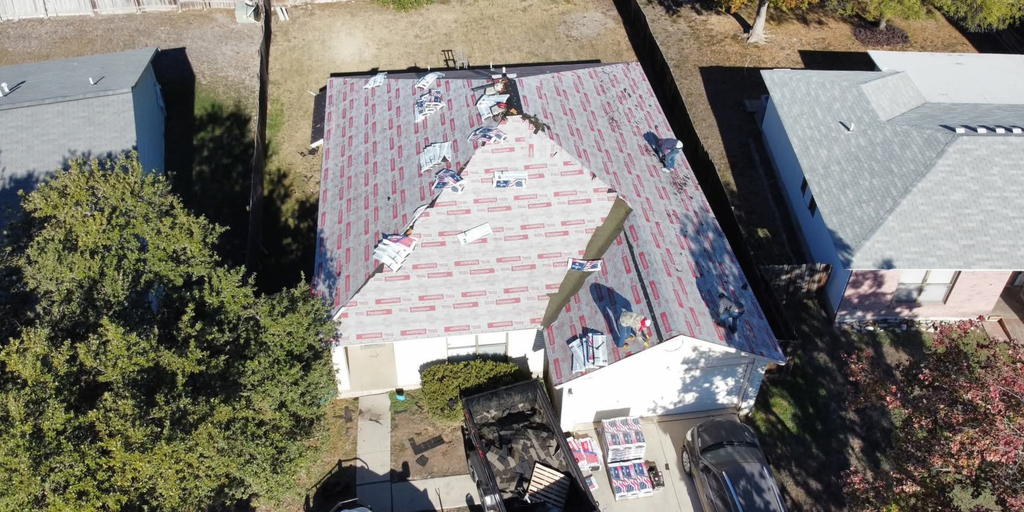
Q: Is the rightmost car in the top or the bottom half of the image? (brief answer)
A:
bottom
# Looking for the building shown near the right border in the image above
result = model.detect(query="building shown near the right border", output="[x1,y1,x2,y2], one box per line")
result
[759,51,1024,377]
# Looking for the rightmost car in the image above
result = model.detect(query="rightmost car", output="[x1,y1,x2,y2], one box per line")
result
[683,412,799,512]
